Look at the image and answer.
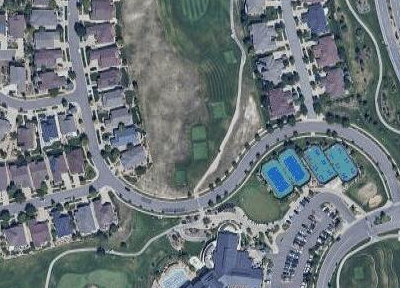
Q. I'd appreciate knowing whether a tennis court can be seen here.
Yes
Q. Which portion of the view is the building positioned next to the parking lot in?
bottom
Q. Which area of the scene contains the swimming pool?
bottom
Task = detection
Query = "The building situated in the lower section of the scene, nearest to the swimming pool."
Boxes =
[180,222,263,288]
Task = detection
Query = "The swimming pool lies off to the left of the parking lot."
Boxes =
[151,262,197,288]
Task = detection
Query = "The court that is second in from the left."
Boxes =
[278,149,310,186]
